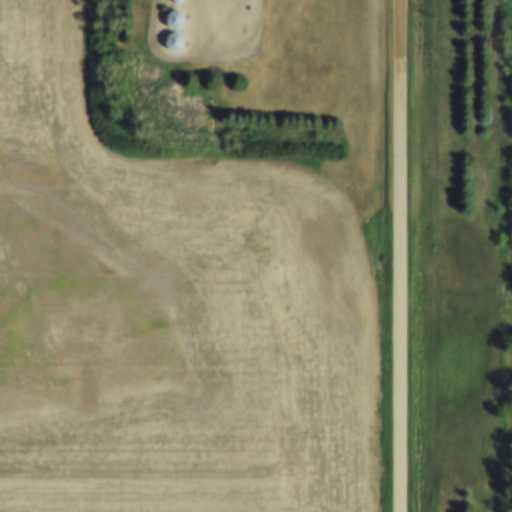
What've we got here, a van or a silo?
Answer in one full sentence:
Of the two, only a silo appears.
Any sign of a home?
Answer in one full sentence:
No, there is no home in the image.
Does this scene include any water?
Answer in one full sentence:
No, there's no water in this view.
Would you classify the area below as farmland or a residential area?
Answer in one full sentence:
This looks like farmland.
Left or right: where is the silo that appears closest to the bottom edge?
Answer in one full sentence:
You can find the silo that appears closest to the bottom edge on the left side of the picture.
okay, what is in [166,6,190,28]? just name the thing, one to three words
silo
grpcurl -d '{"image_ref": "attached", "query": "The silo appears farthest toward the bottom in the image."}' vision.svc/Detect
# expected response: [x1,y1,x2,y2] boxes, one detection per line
[166,30,189,51]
